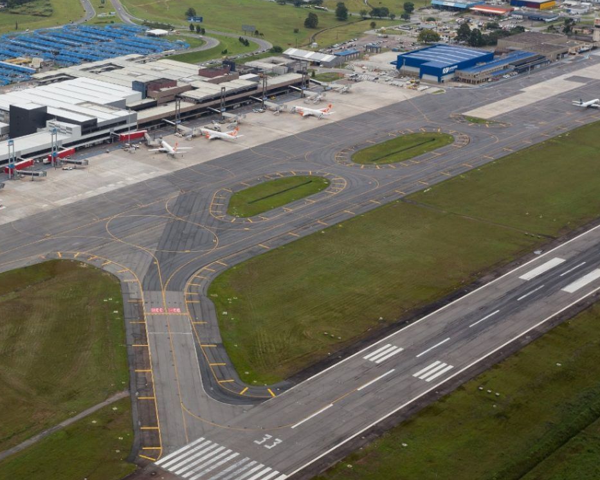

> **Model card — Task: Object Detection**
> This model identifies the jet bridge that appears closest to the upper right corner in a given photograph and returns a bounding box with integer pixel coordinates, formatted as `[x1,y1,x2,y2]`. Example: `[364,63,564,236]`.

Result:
[308,77,353,90]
